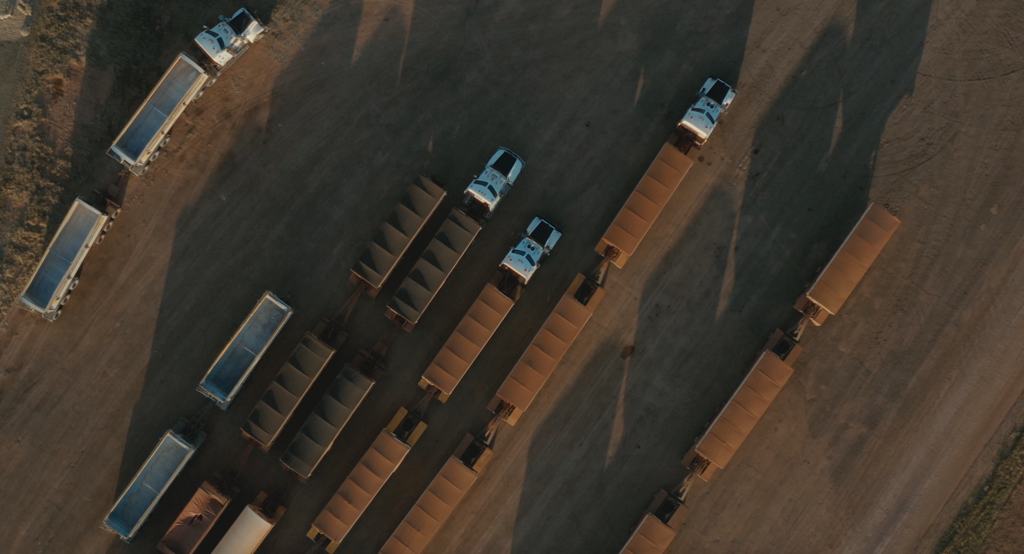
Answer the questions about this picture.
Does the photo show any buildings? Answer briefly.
No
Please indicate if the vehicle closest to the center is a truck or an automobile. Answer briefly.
truck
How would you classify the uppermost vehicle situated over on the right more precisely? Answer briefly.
truck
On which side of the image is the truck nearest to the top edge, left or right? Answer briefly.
left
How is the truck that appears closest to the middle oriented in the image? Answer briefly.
on a diagonal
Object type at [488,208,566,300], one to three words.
truck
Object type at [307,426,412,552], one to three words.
trailer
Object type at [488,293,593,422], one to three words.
trailer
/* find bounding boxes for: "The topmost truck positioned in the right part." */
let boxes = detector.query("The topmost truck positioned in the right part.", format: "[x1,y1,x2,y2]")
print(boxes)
[668,72,740,159]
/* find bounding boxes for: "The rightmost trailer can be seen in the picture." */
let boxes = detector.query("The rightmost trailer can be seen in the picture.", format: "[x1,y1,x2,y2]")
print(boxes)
[791,201,900,327]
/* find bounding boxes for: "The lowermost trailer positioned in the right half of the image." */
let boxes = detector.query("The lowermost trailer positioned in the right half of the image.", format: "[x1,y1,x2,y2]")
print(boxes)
[613,512,676,554]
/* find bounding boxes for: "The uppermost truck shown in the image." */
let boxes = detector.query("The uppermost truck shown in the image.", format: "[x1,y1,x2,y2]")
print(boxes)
[192,0,274,104]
